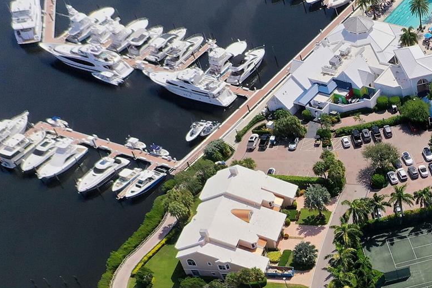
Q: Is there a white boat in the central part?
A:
Yes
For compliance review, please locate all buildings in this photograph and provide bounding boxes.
[176,164,301,285]
[278,11,413,114]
